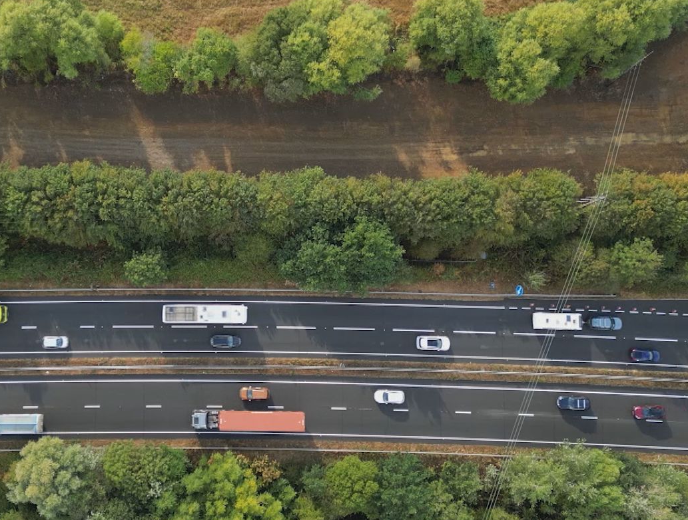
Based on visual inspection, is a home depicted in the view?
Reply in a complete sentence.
No, this view has no home in it.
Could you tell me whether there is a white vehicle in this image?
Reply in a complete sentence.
Yes, this view includes a white vehicle.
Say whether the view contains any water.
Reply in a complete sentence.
No, the scene doesn't show any water.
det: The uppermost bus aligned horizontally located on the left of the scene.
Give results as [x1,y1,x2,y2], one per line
[162,304,247,326]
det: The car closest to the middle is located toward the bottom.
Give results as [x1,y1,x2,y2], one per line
[415,336,450,352]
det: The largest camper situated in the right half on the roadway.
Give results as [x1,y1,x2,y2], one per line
[529,312,585,330]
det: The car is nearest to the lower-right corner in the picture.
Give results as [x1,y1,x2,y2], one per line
[630,404,665,420]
